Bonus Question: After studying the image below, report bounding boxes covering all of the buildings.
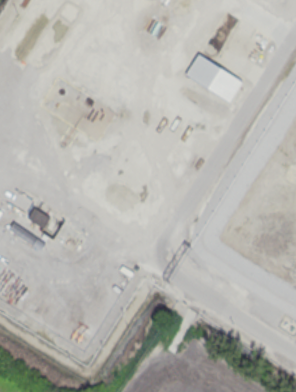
[186,54,242,101]
[26,206,50,227]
